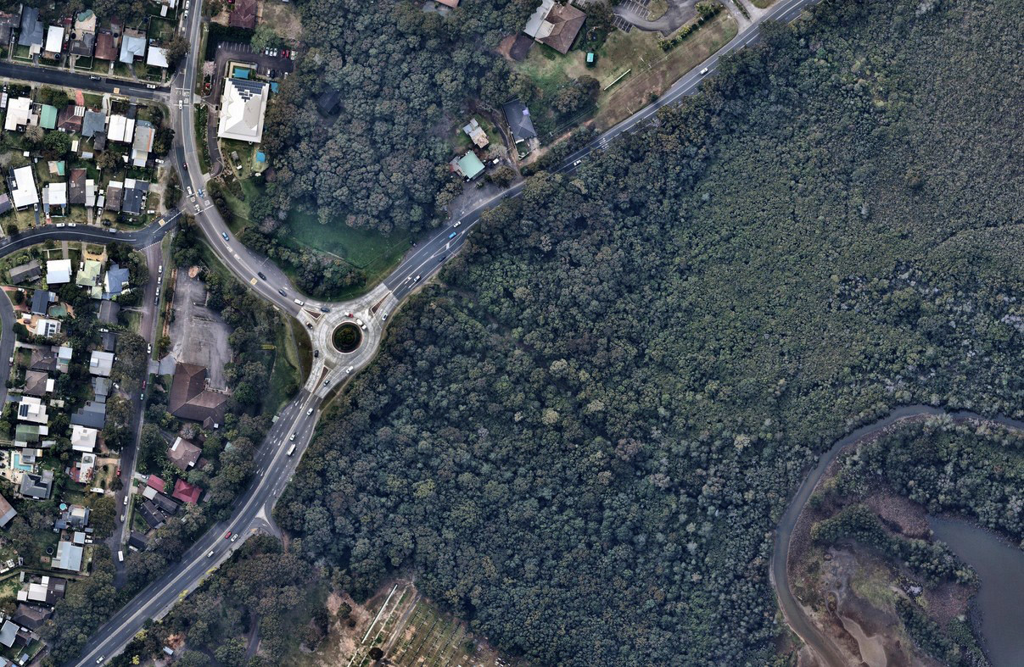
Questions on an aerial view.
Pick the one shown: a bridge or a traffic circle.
traffic circle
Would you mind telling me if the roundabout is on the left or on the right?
left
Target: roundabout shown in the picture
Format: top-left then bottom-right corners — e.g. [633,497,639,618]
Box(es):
[297,283,399,398]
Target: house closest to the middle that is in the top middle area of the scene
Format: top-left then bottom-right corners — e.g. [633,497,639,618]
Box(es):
[451,150,485,178]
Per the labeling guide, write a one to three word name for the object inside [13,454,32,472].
swimming pool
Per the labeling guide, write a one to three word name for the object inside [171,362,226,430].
building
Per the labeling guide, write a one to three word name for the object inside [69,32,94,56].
house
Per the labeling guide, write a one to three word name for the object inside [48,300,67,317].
swimming pool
